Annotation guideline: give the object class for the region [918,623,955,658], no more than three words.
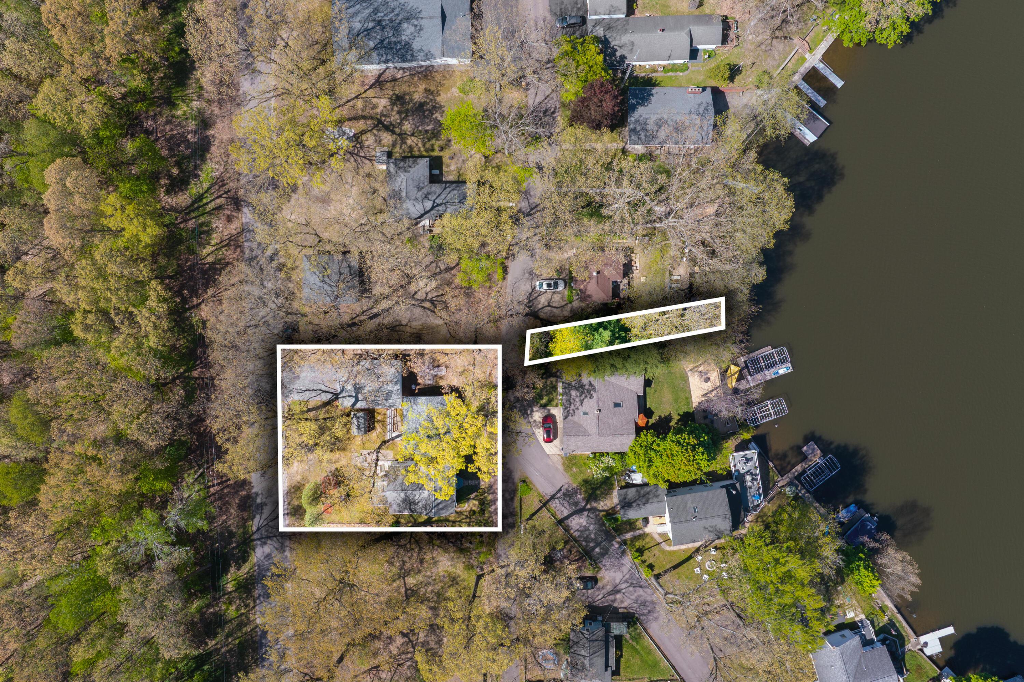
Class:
pier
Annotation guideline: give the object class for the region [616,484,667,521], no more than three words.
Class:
building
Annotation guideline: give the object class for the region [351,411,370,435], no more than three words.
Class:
shed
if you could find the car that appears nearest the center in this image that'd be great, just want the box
[535,278,565,293]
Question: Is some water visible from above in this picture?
Yes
